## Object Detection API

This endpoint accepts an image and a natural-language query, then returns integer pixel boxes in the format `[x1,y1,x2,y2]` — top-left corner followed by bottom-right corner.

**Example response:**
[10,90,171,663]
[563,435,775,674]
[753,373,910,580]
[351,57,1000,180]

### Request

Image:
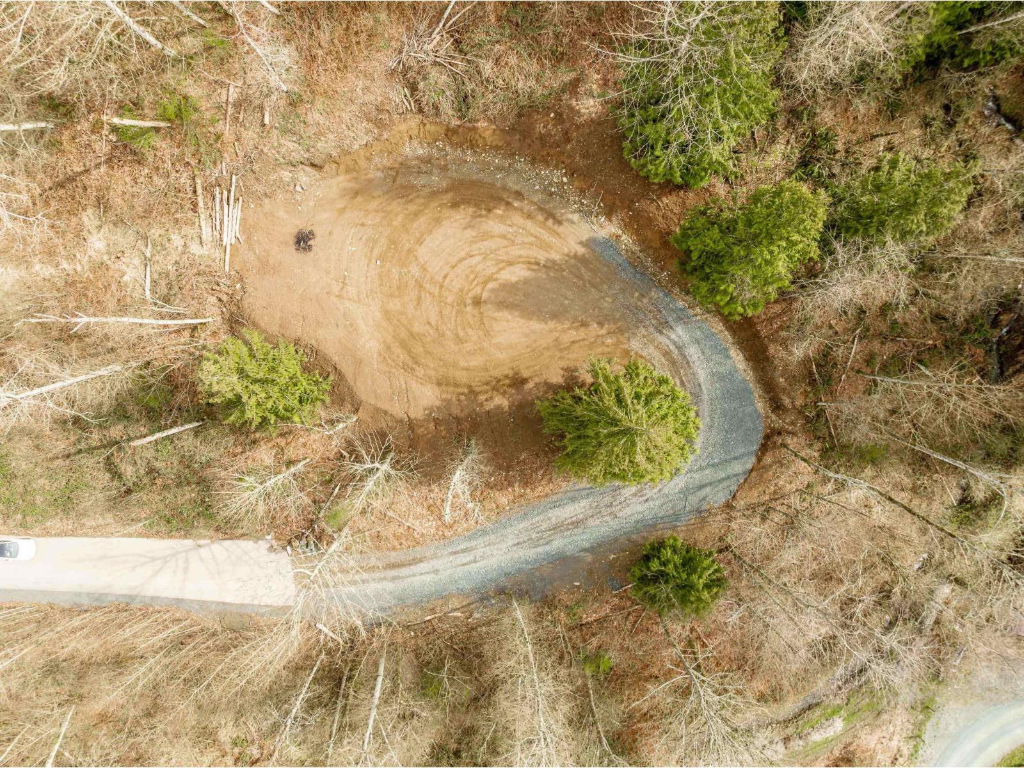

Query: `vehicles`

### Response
[0,540,32,569]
